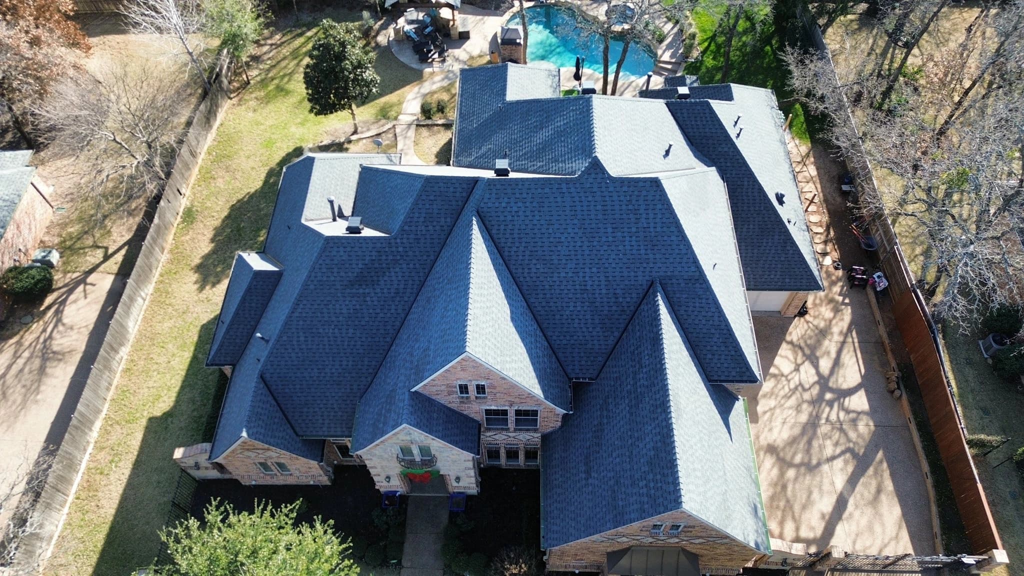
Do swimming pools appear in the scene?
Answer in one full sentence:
Yes, looking at the shot, I can spot a swimming pool.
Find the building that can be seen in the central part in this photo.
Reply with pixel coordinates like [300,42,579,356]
[202,63,827,576]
